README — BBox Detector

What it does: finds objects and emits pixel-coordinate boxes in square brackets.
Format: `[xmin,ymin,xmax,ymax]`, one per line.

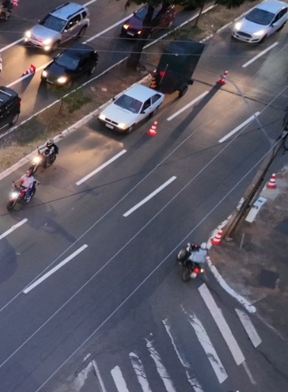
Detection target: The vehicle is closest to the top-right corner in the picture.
[232,0,288,42]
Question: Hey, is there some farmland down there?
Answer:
No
